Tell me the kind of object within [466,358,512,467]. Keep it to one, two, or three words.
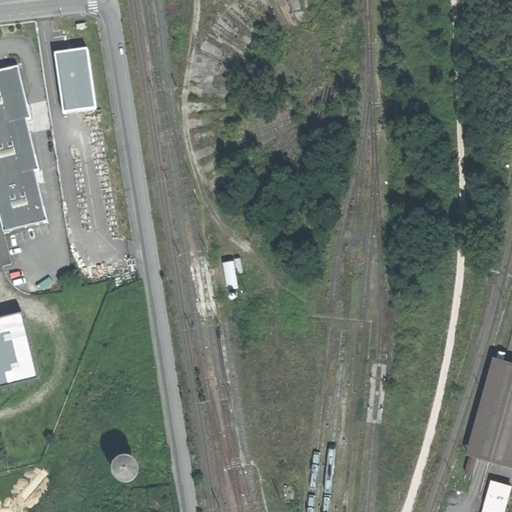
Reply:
building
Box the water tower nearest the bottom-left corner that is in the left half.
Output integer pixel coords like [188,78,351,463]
[111,452,139,481]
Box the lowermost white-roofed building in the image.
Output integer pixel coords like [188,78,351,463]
[481,480,512,512]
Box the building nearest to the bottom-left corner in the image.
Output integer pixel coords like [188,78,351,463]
[0,313,37,384]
